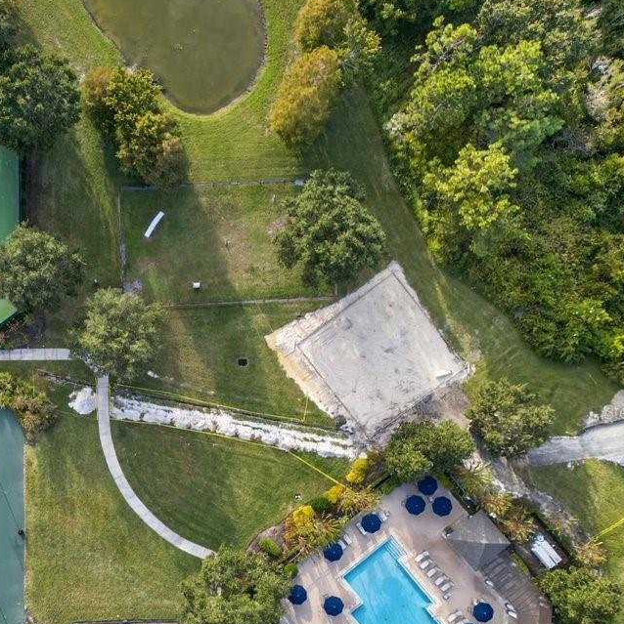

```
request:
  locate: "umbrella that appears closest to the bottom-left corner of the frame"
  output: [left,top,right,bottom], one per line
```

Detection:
[287,585,307,605]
